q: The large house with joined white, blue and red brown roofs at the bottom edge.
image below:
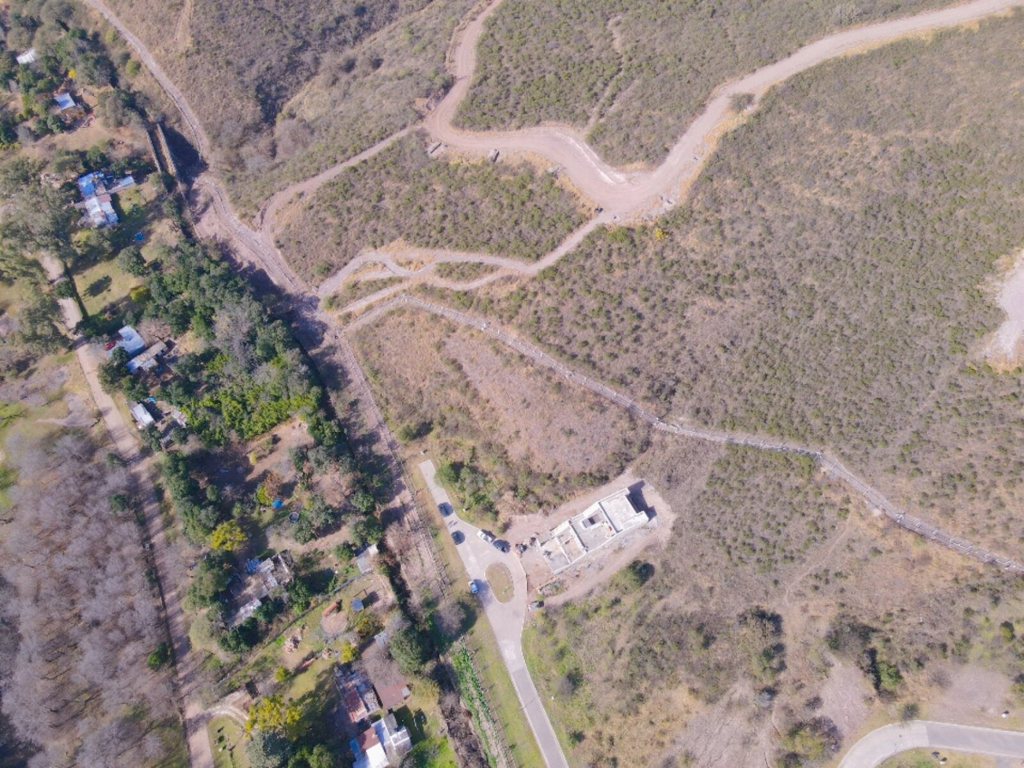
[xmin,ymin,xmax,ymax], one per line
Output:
[349,710,411,768]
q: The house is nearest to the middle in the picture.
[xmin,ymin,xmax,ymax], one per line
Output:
[536,485,648,574]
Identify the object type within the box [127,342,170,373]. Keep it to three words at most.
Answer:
shed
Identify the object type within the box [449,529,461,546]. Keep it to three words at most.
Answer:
vehicle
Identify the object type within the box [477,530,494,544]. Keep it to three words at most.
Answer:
vehicle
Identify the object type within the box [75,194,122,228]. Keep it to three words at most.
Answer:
house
